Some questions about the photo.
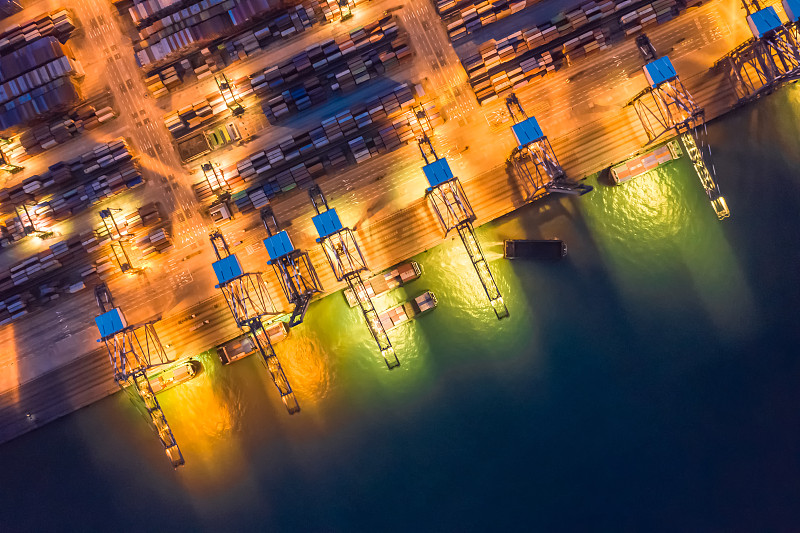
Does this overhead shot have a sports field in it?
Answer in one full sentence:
No, no sports field can be seen from above.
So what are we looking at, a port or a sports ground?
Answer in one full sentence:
The picture captures a port.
